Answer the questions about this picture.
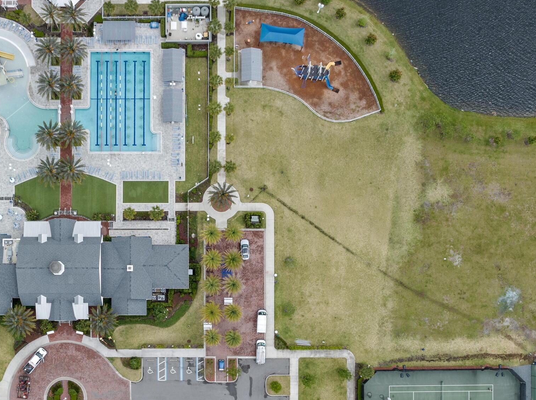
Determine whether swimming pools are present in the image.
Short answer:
Yes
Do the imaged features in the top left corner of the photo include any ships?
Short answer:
No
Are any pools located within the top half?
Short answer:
Yes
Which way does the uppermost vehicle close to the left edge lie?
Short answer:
at an angle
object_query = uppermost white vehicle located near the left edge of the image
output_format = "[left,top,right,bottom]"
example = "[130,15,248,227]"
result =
[25,348,45,373]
